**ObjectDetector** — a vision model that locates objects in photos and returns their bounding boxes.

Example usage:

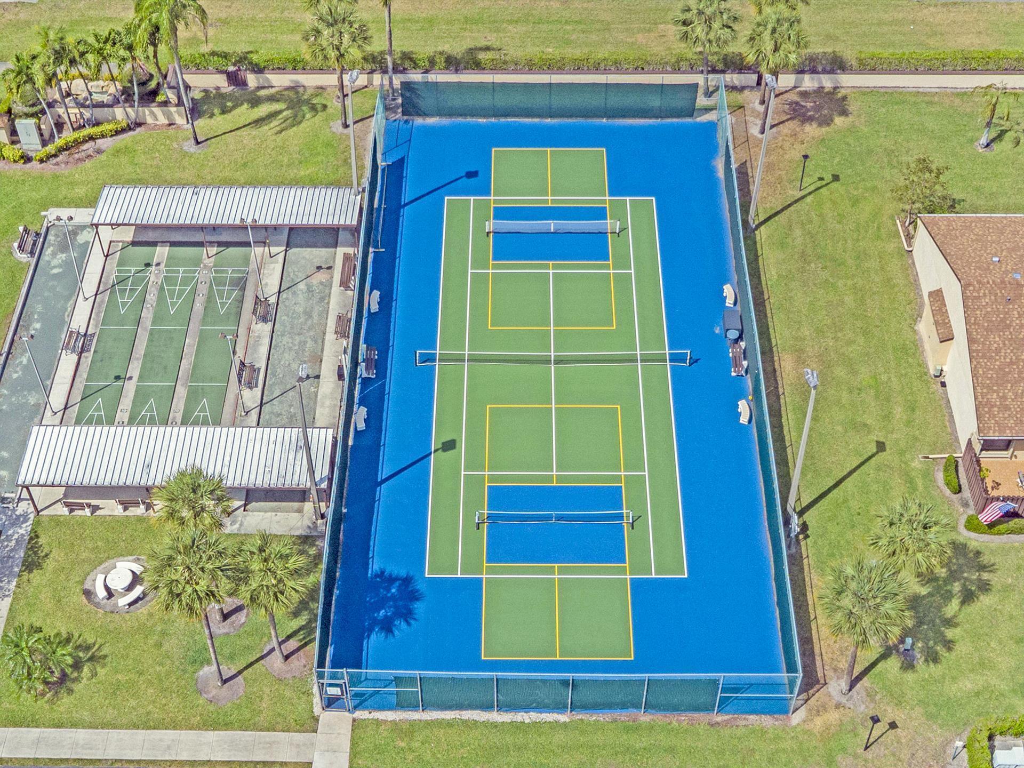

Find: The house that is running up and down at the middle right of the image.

[913,213,1024,460]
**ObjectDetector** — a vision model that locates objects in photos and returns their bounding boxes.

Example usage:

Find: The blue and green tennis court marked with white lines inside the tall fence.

[329,119,790,715]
